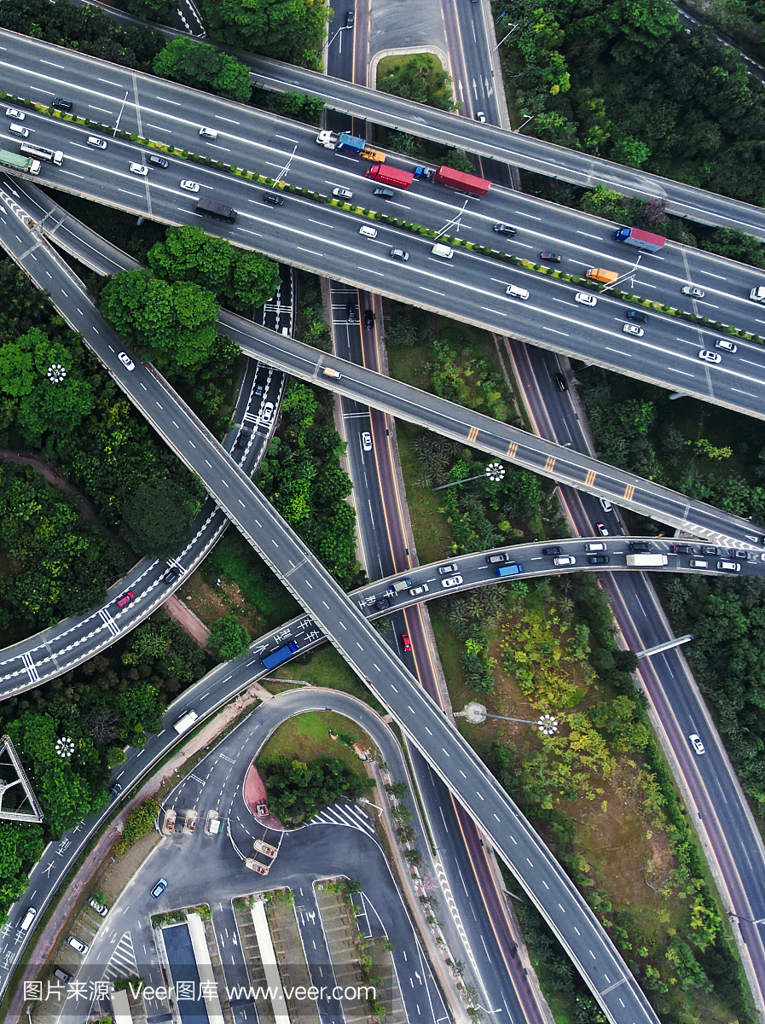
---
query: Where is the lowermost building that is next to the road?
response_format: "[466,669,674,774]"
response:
[160,920,209,1024]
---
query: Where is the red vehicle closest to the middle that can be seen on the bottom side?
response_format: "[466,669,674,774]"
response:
[400,632,412,651]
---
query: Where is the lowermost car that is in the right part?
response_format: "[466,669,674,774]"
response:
[688,734,703,754]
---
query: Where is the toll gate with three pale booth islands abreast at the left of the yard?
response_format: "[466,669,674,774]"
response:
[156,809,225,837]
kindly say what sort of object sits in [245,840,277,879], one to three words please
toll station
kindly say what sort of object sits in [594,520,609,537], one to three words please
car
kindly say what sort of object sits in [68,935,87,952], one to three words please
car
